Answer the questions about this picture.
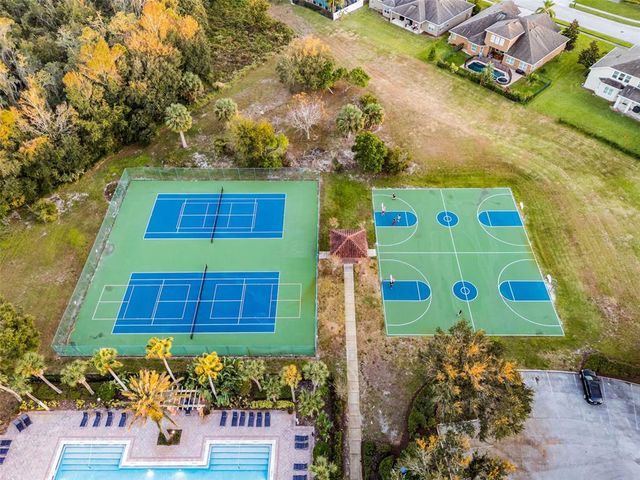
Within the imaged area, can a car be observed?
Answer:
Yes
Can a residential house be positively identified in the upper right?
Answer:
Yes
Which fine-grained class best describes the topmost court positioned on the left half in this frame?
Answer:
tennis court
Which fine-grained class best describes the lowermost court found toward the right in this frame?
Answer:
basketball court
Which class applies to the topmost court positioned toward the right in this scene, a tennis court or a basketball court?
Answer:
basketball court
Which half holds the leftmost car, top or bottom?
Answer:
bottom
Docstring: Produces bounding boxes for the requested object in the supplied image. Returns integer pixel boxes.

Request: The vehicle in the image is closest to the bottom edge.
[581,367,609,402]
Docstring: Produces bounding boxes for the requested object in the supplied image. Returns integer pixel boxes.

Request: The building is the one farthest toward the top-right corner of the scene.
[583,44,640,121]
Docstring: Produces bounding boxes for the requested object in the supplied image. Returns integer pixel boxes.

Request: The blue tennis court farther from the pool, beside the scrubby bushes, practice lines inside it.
[101,179,318,254]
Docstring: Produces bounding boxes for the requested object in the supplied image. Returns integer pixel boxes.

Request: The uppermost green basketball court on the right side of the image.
[372,188,534,252]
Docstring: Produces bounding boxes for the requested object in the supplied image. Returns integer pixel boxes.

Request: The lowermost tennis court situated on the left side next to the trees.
[62,254,318,356]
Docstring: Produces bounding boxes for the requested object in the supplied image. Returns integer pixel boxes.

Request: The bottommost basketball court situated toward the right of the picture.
[378,252,565,336]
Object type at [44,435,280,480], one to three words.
swimming pool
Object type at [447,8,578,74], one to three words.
house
